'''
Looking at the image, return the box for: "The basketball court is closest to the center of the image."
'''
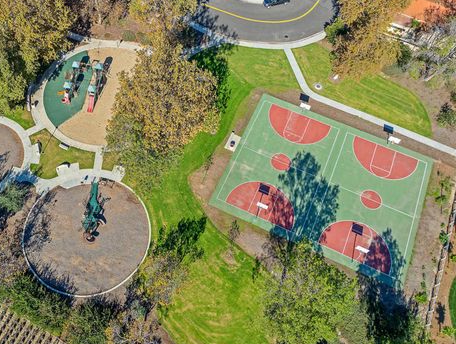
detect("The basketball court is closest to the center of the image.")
[210,94,344,246]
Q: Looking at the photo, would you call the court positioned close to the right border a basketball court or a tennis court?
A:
basketball court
